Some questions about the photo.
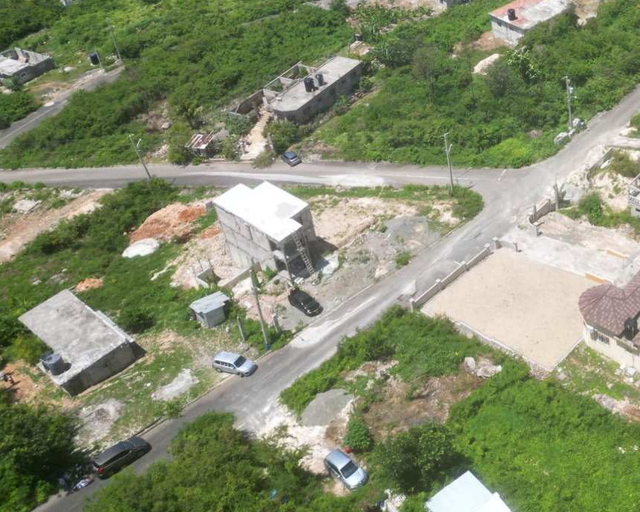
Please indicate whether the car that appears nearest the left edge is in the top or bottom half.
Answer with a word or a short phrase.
bottom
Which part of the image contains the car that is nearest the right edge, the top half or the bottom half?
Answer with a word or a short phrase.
bottom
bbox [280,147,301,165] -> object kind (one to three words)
car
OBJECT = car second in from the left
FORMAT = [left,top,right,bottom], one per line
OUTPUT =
[209,352,256,380]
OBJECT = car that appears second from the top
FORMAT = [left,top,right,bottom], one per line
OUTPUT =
[285,286,321,314]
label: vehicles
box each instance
[320,447,368,491]
[209,352,256,380]
[280,147,301,165]
[85,436,154,482]
[285,286,321,314]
